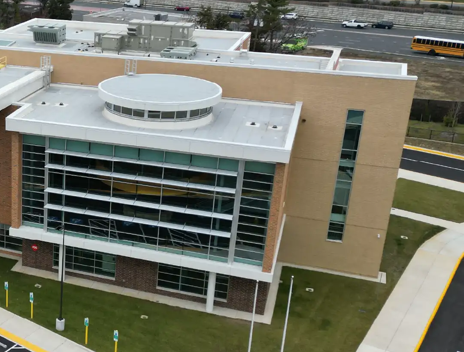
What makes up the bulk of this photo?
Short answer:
buildings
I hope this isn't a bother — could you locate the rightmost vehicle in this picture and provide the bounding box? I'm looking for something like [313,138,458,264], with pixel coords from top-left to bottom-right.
[413,33,464,62]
